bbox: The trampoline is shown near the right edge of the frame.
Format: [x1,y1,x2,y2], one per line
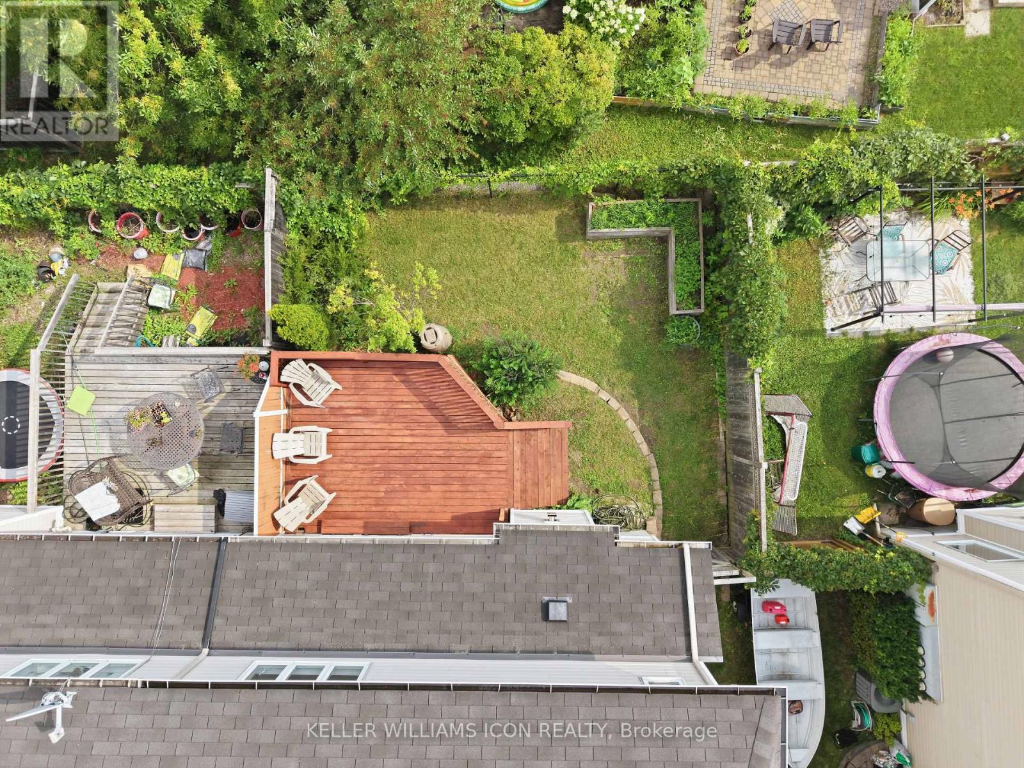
[862,329,1024,511]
